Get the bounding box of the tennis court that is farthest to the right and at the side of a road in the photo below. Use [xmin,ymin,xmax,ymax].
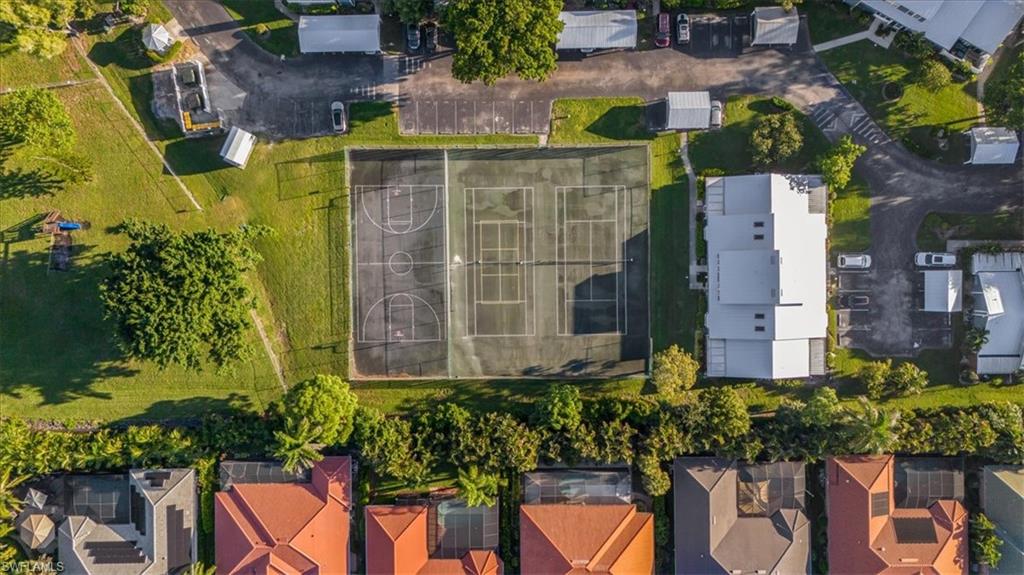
[545,148,650,377]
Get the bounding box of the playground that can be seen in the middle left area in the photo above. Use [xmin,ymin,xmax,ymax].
[35,210,82,273]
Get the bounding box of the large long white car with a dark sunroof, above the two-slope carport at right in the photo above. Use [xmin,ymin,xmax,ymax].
[915,252,956,268]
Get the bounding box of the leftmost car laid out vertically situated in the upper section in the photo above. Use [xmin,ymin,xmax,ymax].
[331,101,347,134]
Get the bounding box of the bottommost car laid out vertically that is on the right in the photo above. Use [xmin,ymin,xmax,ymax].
[710,98,724,130]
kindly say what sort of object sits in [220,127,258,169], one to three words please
shed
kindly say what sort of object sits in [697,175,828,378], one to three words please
building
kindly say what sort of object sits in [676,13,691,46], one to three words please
car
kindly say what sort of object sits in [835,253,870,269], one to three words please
car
